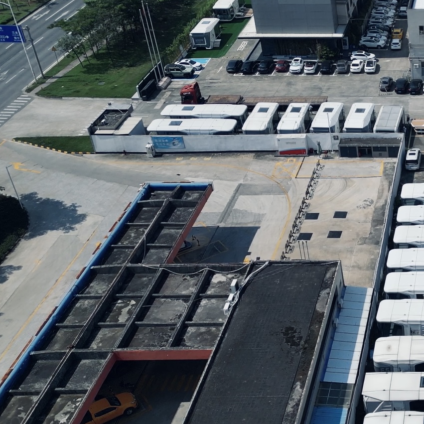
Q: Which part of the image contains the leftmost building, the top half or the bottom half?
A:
top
